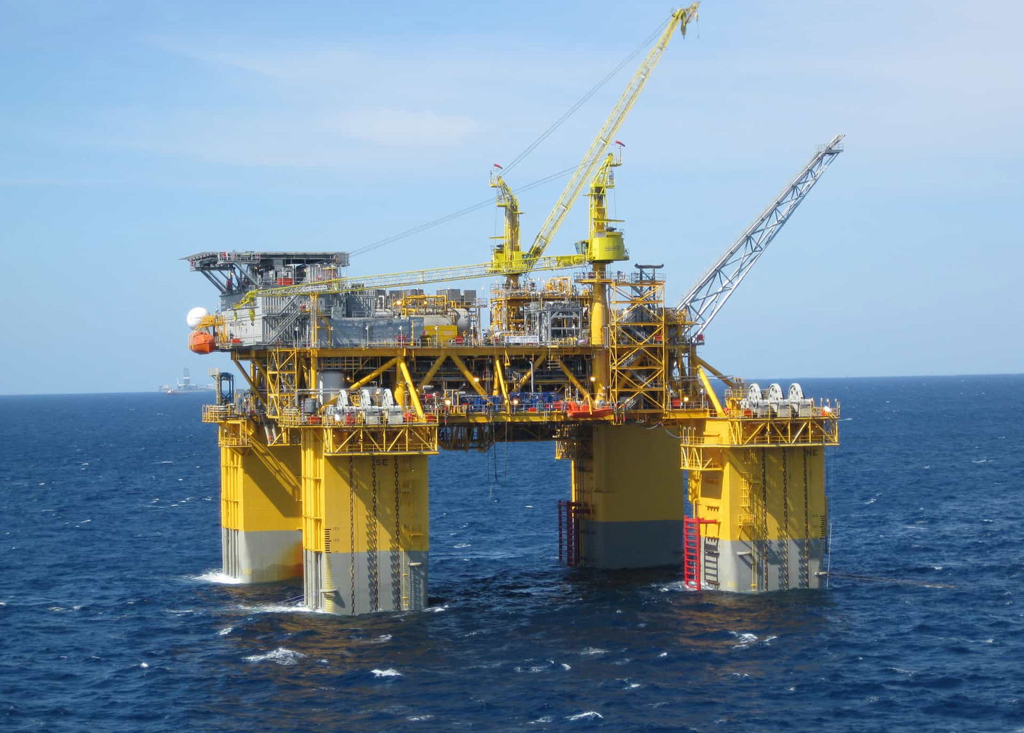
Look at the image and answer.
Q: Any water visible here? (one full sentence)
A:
Yes, there is water in the image.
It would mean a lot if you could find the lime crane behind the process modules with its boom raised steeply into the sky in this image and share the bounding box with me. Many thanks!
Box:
[480,1,699,331]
